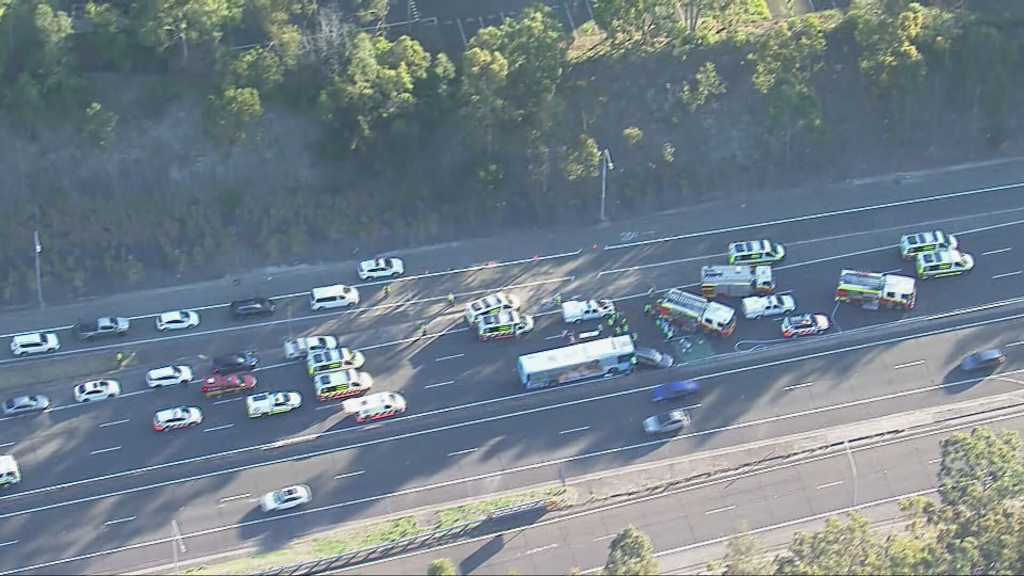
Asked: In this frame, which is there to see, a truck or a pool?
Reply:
truck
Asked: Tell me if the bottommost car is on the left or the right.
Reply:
left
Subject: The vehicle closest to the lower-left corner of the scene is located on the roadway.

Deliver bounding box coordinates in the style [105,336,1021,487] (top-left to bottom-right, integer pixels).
[0,455,24,484]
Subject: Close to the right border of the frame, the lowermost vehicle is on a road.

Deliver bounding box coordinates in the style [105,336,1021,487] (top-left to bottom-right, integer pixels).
[959,350,1004,374]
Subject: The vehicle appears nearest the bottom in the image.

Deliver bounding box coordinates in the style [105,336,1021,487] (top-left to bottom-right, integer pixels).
[260,486,311,514]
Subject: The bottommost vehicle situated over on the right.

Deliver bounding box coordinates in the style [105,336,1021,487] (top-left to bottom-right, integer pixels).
[643,410,690,436]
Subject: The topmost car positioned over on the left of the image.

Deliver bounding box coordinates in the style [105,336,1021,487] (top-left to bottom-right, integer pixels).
[358,257,404,282]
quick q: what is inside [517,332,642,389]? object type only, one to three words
bus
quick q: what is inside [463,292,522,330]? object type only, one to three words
van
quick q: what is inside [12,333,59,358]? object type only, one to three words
car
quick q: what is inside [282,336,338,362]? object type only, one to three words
truck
